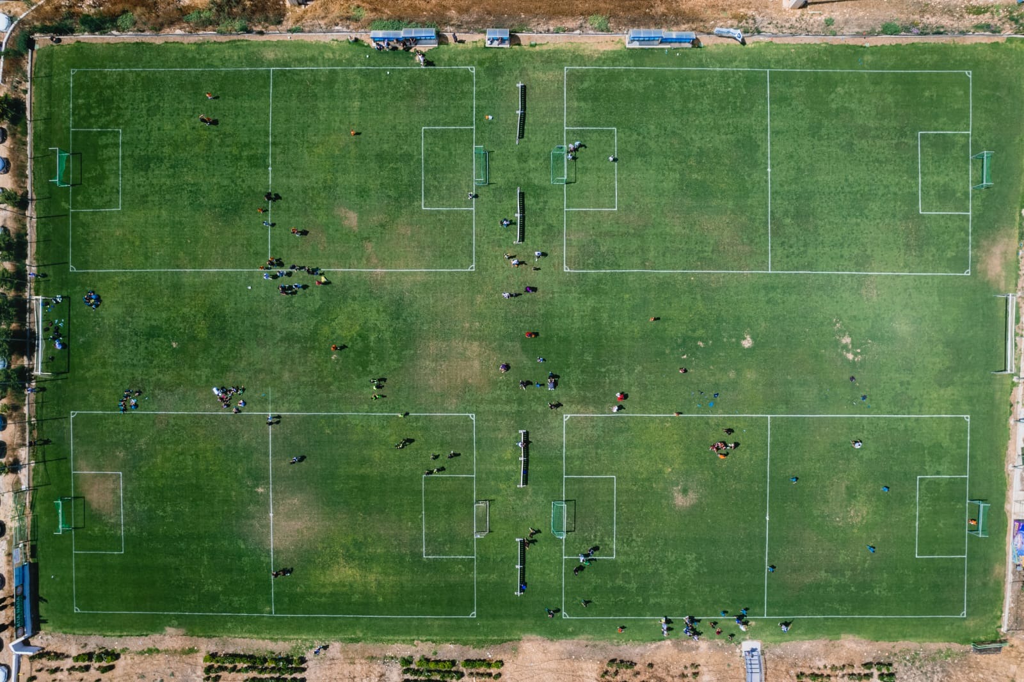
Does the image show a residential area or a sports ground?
sports ground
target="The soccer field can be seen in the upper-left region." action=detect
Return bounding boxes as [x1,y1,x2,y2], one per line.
[69,67,475,270]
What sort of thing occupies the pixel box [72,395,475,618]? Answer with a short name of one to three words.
soccer field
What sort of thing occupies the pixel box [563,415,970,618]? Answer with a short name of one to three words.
soccer field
